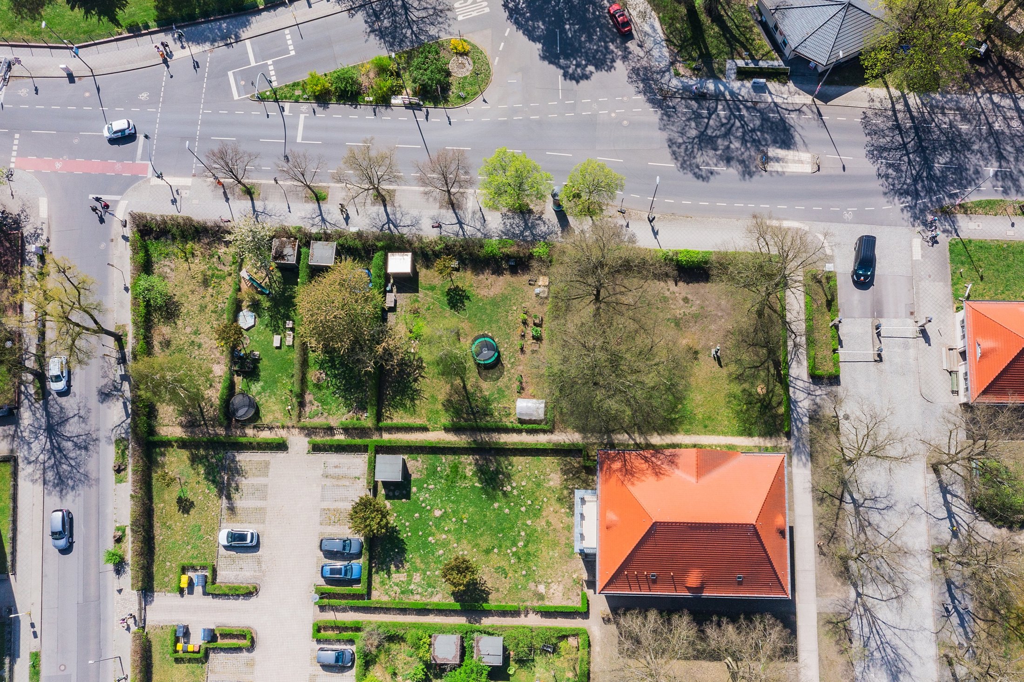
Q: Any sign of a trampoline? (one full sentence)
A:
Yes, a trampoline appears in the view.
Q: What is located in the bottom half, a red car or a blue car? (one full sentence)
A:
The one visible in the bottom half is a blue car.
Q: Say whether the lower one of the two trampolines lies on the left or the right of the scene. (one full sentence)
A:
The lower one of the two trampolines is on the left side of the image.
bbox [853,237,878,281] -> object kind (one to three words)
vehicle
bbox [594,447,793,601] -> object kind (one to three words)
house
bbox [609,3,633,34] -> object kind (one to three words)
car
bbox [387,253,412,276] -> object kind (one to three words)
shed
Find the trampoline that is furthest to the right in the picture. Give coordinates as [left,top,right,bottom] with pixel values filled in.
[473,340,500,369]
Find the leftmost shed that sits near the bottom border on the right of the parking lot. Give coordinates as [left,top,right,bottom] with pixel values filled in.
[432,634,460,664]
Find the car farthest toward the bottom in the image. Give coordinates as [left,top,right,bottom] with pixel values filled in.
[316,647,354,668]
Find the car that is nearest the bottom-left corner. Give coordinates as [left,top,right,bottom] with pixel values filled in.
[50,510,72,548]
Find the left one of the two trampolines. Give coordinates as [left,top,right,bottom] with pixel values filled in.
[227,395,259,422]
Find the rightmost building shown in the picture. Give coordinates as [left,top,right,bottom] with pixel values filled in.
[937,300,1024,409]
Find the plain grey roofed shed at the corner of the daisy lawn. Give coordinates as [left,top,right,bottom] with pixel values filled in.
[375,455,403,481]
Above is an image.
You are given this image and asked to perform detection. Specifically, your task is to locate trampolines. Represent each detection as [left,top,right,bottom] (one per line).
[473,340,500,369]
[227,395,259,422]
